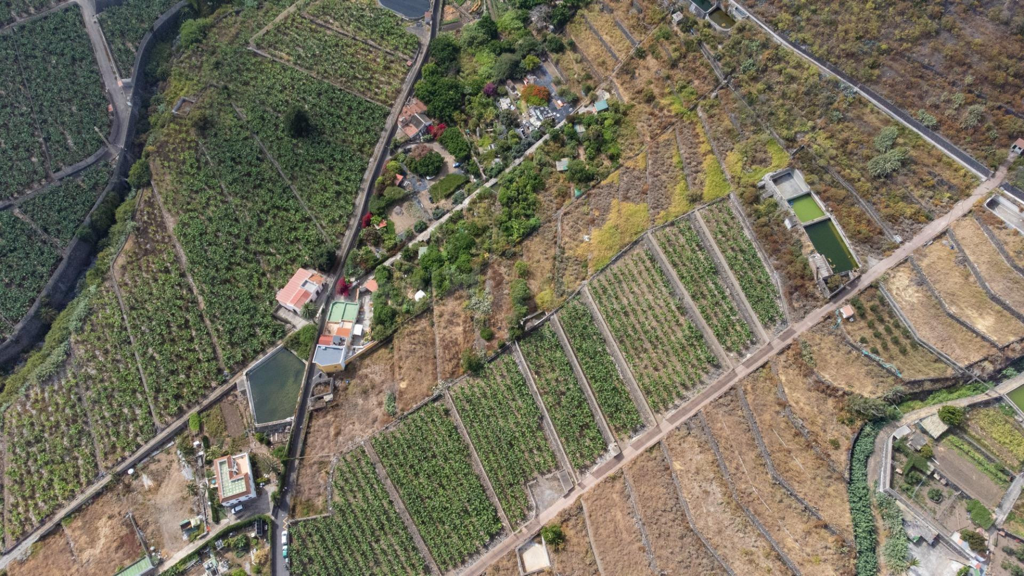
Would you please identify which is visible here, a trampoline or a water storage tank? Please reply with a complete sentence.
Of the two, only a water storage tank appears.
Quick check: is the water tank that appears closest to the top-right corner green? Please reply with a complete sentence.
No, the water tank that appears closest to the top-right corner is actually white.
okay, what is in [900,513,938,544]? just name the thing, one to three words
shed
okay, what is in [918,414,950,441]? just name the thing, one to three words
building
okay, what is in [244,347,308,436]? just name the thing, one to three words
water tank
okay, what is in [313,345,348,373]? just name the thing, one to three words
house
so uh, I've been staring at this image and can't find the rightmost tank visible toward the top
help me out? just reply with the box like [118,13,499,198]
[981,195,1024,236]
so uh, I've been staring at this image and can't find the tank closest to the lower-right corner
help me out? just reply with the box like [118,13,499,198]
[1002,380,1024,420]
